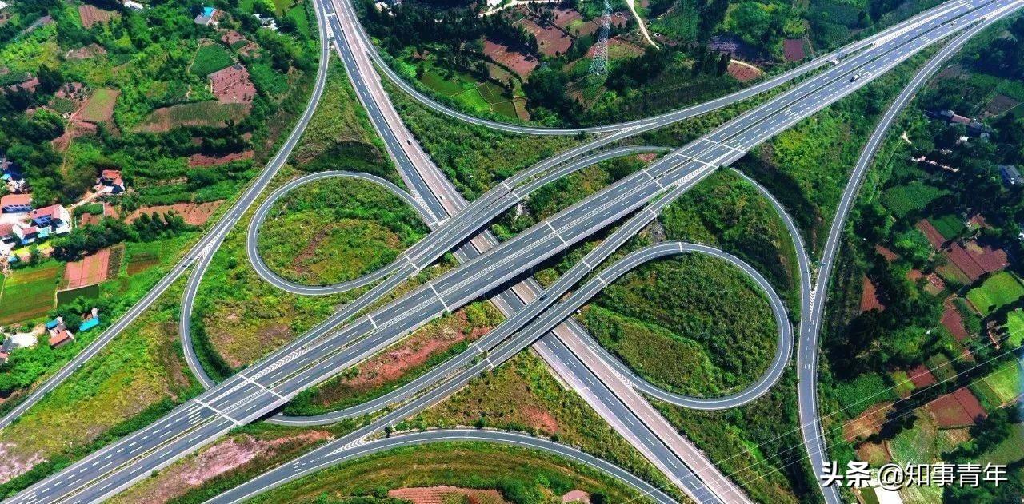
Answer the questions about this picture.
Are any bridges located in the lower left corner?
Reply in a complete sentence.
Yes, in the lower left corner there is a bridge.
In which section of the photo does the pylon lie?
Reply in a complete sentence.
The pylon is located in the top region of the scene.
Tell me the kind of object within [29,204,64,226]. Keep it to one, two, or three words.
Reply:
house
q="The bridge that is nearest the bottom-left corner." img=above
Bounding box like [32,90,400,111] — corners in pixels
[194,369,287,435]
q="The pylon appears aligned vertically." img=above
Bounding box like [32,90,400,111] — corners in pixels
[587,0,619,82]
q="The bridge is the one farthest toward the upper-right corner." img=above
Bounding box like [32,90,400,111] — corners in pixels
[678,130,744,170]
